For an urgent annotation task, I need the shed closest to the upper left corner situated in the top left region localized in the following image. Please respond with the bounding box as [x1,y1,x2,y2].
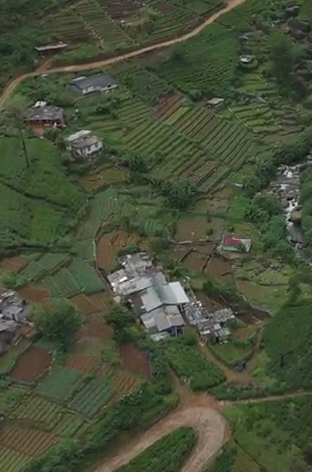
[36,41,69,60]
